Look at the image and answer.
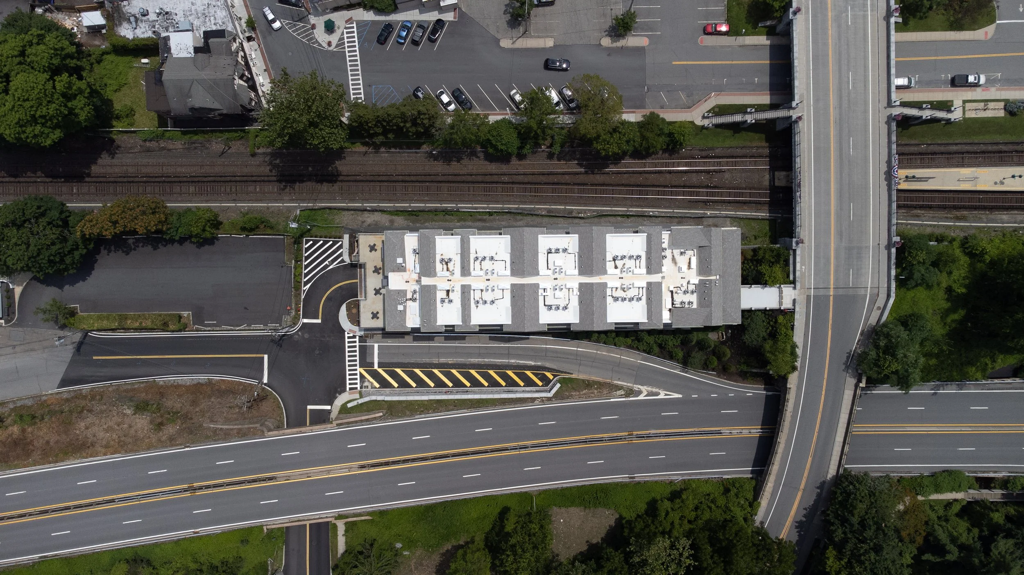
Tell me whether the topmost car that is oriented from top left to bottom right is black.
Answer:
No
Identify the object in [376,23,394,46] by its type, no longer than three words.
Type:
car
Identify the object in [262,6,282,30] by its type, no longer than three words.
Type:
car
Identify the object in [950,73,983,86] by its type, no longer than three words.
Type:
vehicle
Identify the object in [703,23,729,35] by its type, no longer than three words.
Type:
vehicle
